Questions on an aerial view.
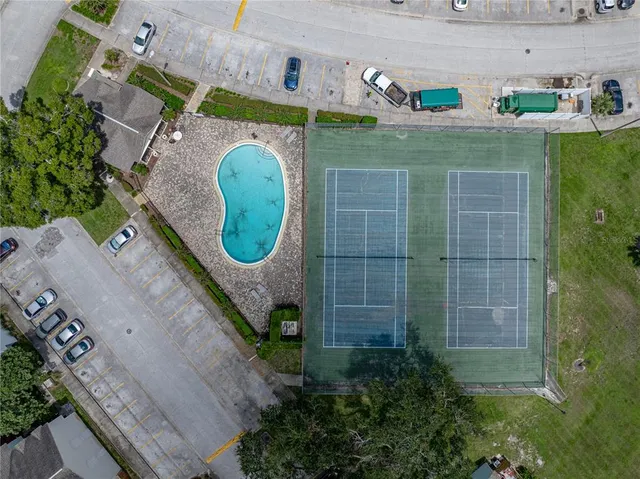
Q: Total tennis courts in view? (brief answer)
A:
2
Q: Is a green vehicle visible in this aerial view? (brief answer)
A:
Yes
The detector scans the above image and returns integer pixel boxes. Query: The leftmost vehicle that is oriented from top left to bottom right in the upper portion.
[364,71,407,107]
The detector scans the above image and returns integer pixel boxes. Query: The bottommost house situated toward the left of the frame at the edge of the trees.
[0,412,122,479]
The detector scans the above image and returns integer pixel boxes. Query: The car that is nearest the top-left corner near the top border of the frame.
[133,21,155,56]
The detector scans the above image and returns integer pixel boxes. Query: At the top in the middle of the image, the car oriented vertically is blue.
[283,58,299,91]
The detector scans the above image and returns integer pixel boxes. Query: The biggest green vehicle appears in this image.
[498,91,563,114]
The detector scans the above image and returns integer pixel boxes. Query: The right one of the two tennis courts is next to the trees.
[427,131,545,386]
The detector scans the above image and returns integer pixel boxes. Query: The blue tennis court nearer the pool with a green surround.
[304,128,427,387]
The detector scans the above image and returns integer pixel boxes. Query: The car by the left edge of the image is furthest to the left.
[0,235,21,263]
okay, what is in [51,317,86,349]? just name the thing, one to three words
car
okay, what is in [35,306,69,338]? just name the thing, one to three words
car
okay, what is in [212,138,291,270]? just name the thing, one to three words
swimming pool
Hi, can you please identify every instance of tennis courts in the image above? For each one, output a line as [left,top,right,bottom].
[427,131,545,386]
[304,128,427,387]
